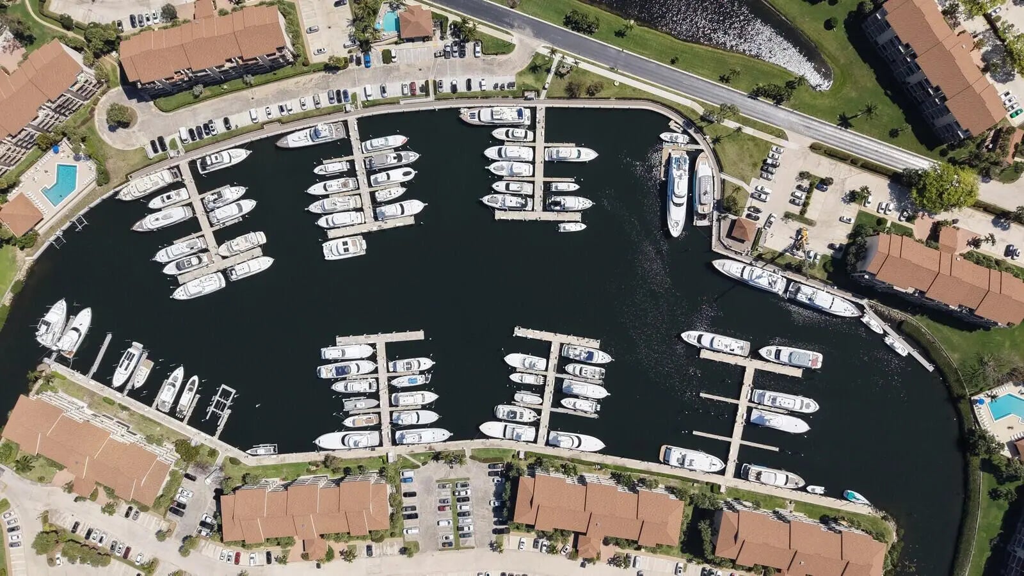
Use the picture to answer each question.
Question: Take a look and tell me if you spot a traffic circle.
Yes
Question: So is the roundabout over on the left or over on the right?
left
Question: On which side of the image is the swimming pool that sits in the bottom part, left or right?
right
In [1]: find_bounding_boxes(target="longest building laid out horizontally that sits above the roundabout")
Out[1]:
[115,3,294,95]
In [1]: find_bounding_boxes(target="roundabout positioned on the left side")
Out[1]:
[94,86,154,151]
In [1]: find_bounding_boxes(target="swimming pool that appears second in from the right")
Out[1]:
[374,2,404,42]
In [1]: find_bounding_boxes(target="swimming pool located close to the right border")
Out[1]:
[973,382,1024,456]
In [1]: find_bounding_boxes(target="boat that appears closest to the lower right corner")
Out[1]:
[840,489,870,505]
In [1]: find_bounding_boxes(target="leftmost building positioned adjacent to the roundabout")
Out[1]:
[0,36,98,170]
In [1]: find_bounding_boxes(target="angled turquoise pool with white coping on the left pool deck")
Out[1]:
[11,139,97,228]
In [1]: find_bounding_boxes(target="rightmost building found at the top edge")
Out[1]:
[863,0,1013,142]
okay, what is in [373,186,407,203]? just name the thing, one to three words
boat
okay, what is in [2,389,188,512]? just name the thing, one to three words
building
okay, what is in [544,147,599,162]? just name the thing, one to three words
boat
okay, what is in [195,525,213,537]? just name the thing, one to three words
vehicle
